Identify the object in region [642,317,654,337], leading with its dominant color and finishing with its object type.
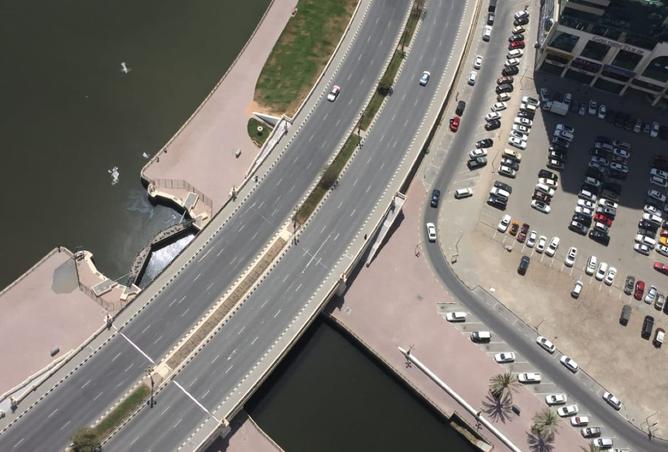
black vehicle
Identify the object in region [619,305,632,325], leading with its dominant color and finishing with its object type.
gray vehicle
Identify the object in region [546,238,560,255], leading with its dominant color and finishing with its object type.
white vehicle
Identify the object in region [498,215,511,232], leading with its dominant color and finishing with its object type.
white vehicle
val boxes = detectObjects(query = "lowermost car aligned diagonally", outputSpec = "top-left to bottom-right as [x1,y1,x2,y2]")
[601,391,622,411]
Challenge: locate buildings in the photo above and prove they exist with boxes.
[536,0,668,98]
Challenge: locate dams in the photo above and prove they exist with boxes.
[129,222,200,286]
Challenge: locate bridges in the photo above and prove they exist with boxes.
[0,0,478,452]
